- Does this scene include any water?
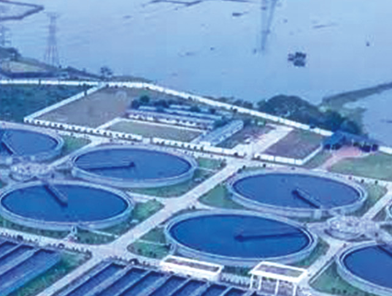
Yes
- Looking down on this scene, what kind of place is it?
industrial area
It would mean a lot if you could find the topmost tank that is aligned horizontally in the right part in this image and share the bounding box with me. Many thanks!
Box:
[229,167,370,224]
